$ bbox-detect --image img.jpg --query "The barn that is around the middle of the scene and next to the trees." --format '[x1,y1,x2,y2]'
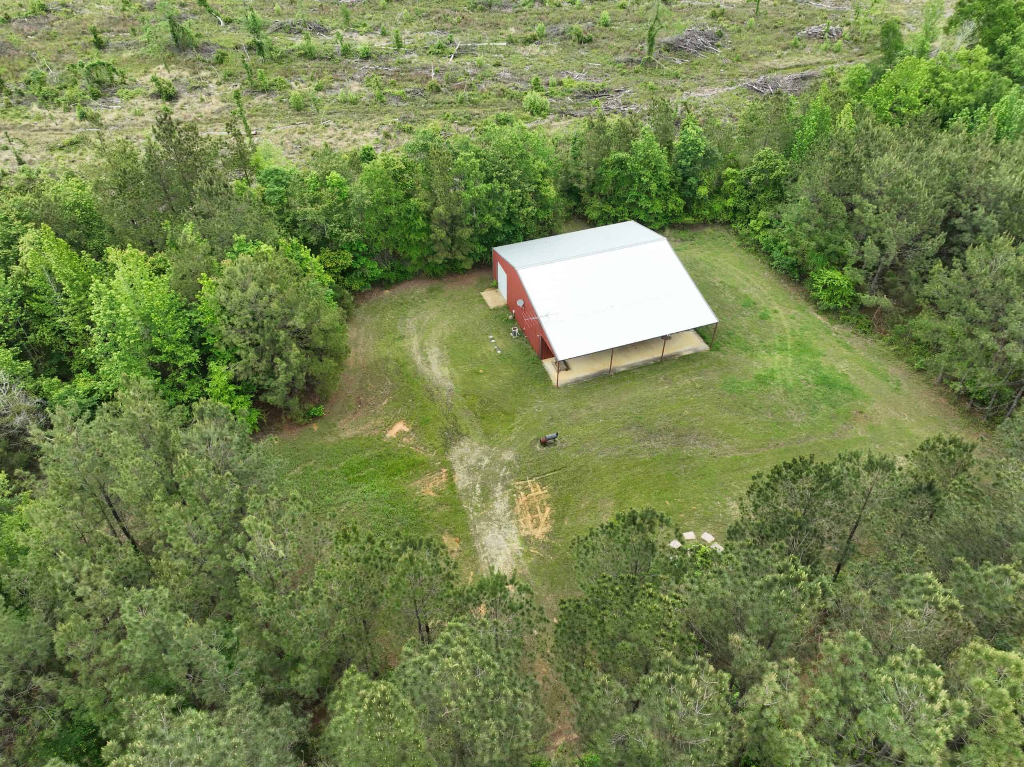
[480,220,719,387]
